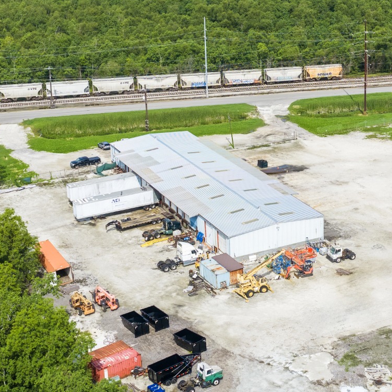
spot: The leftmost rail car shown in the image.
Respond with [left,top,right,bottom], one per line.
[0,84,41,102]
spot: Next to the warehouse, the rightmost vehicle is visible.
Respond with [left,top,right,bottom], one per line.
[323,239,356,262]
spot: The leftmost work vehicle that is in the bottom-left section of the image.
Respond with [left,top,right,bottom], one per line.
[73,291,101,315]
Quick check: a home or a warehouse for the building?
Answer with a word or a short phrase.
warehouse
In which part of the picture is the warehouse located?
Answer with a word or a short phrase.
center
